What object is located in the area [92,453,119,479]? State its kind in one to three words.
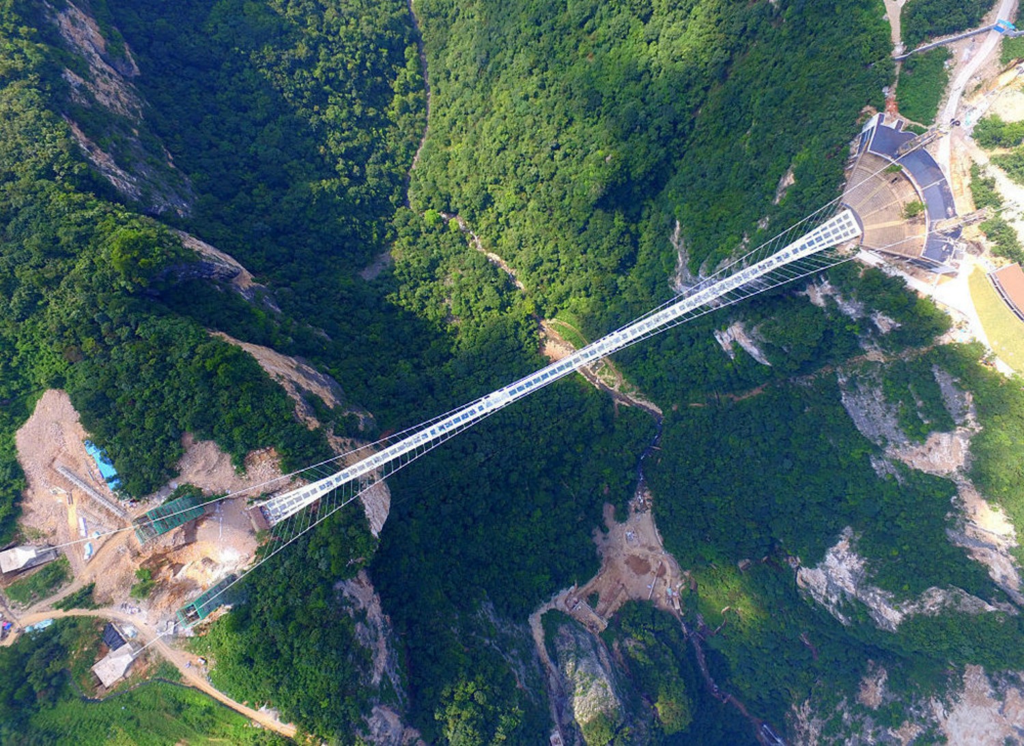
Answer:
shed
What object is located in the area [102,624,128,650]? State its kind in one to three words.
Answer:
shed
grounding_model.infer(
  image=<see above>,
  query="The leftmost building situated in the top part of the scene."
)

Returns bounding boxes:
[834,112,955,277]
